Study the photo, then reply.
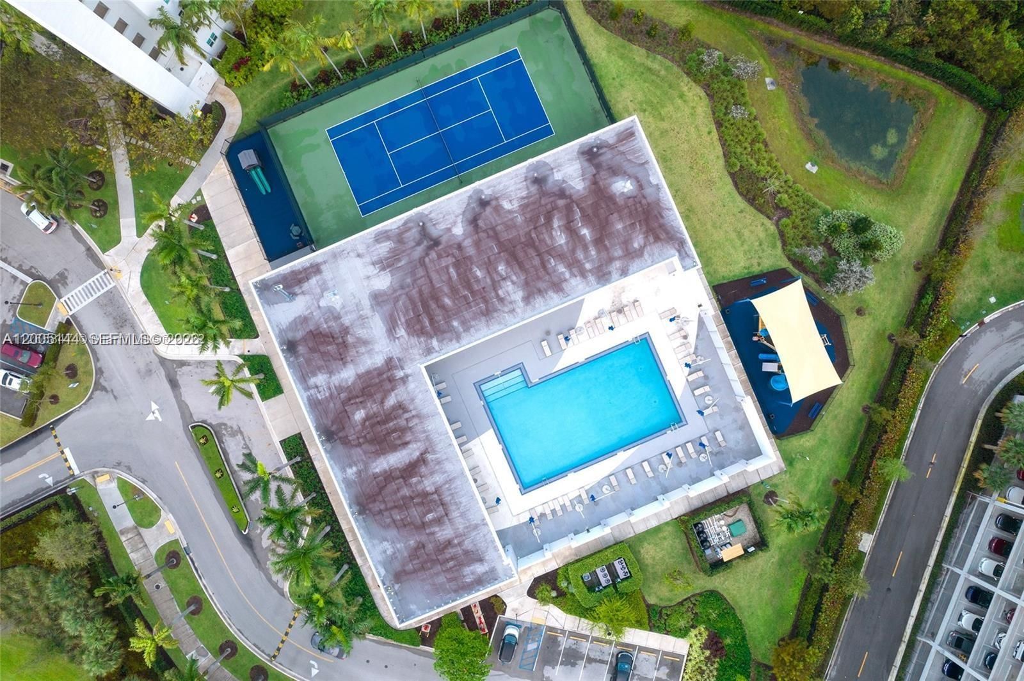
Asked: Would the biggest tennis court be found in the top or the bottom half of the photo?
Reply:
top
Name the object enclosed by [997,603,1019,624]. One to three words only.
car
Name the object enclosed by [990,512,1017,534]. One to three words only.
car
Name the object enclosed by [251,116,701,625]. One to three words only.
building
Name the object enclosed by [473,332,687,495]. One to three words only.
swimming pool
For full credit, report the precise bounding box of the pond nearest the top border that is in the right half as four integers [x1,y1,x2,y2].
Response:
[766,38,916,182]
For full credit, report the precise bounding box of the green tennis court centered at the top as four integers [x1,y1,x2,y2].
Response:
[267,8,640,254]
